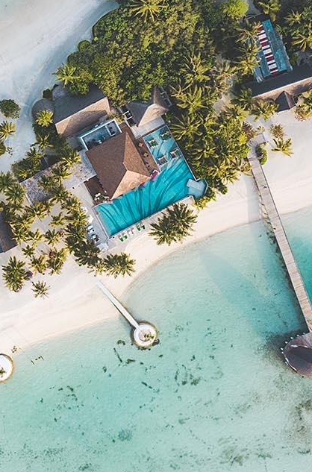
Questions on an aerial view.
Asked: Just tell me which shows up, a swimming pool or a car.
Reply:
swimming pool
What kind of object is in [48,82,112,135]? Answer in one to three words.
building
